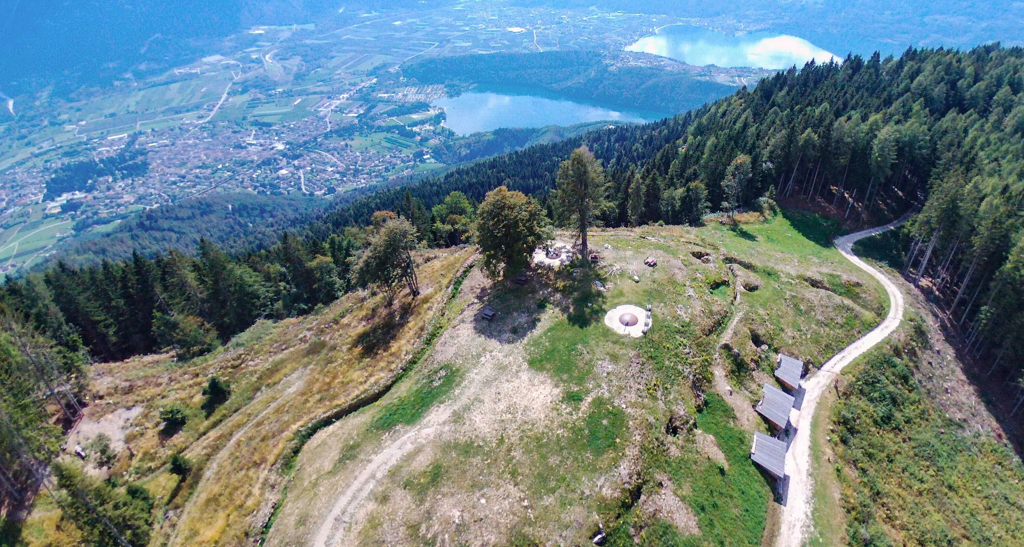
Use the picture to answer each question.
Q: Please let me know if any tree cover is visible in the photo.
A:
Yes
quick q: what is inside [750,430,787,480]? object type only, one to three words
shed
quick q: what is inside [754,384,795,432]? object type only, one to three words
shed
